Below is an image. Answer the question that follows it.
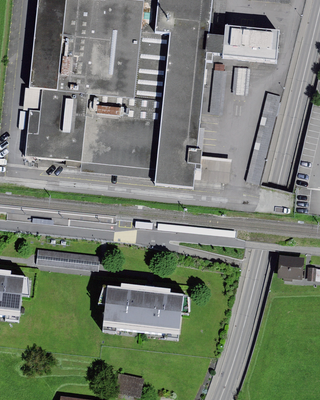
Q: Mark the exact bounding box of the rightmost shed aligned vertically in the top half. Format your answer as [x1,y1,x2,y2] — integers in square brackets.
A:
[247,93,281,186]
